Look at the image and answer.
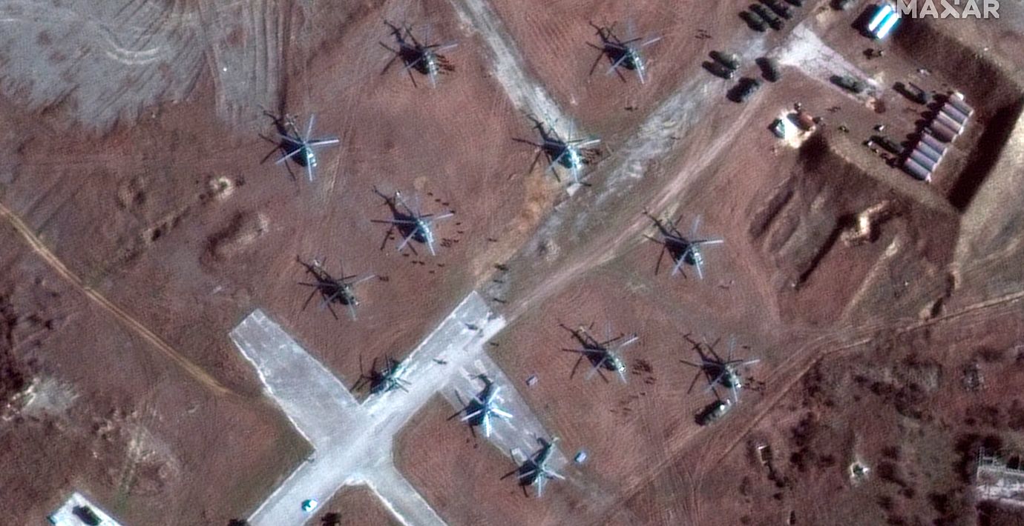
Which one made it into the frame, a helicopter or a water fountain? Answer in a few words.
helicopter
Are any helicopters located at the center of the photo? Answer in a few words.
Yes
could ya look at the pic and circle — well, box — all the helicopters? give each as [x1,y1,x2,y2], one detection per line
[599,19,663,79]
[394,21,458,83]
[309,255,374,315]
[359,351,421,414]
[695,334,759,397]
[276,109,338,176]
[386,191,451,251]
[456,371,521,442]
[575,319,640,381]
[659,213,723,275]
[508,435,573,505]
[538,117,602,178]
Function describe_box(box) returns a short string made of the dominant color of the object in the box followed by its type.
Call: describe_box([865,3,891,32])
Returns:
white tent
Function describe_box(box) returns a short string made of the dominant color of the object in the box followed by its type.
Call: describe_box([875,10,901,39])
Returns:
white tent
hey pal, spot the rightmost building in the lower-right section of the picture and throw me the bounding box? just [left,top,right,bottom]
[976,447,1024,508]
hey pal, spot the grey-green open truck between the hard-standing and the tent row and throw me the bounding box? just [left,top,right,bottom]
[900,79,928,101]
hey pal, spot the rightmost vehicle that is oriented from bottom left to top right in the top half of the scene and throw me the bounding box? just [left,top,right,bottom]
[735,78,761,98]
